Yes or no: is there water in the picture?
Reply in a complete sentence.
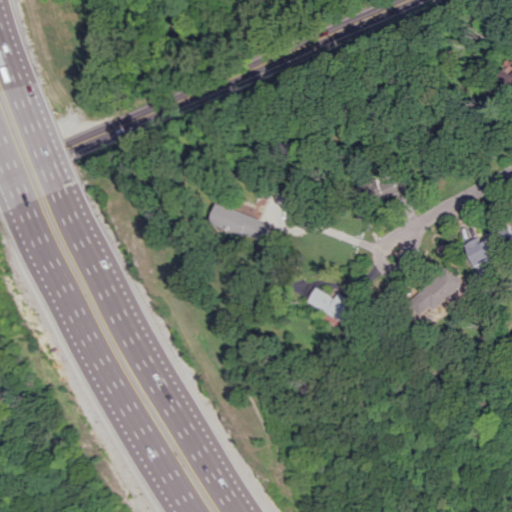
No, water can't be seen anywhere here.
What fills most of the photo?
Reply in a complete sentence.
Most of the picture is covered by trees.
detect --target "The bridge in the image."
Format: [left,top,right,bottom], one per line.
[0,82,86,214]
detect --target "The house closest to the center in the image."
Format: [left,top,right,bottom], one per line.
[208,202,265,239]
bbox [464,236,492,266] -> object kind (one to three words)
house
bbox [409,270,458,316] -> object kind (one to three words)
house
